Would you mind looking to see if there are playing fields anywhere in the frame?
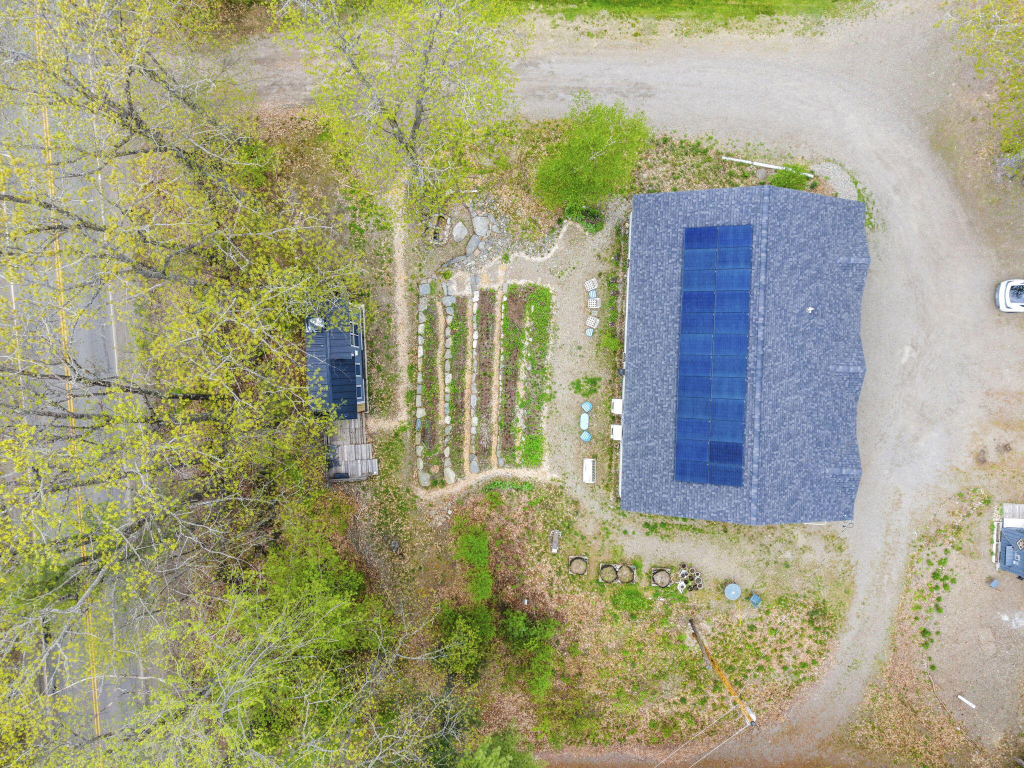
No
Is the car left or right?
right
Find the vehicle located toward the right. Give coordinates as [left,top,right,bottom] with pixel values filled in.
[991,278,1024,315]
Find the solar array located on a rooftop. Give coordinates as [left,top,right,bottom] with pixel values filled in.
[675,225,751,488]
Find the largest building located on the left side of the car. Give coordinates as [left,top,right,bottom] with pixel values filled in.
[615,185,871,526]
